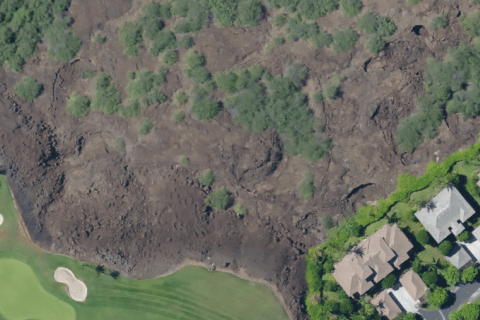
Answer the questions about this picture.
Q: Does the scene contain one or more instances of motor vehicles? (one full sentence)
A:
No, no motor vehicle is visible in the scene.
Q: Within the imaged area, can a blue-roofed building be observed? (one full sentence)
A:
No, there isn't any blue-roofed building down there.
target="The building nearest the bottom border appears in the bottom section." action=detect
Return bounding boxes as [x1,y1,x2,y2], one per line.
[371,289,403,320]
